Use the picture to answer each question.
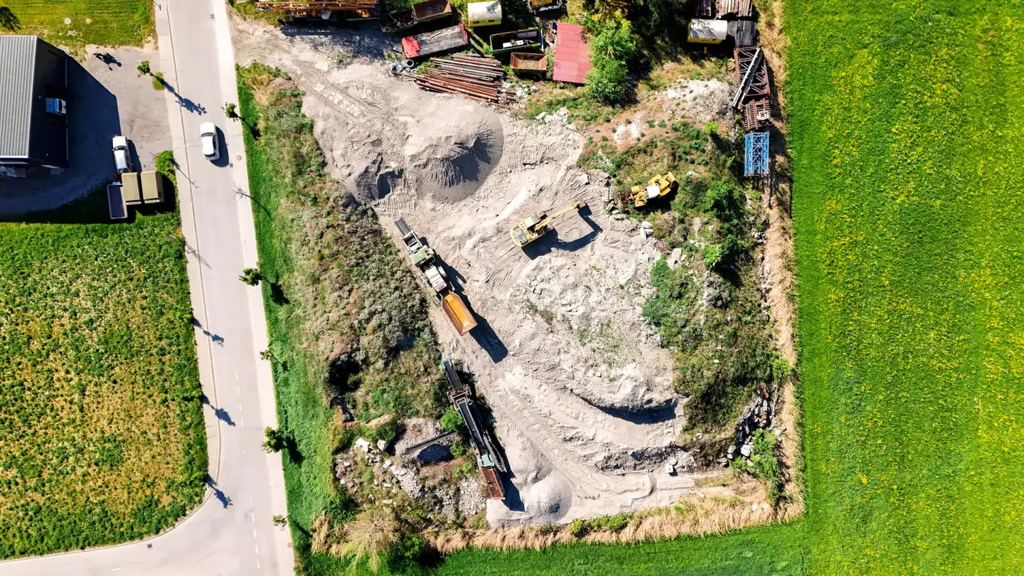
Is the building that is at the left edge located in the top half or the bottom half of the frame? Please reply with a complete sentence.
You can find the building that is at the left edge in the top half.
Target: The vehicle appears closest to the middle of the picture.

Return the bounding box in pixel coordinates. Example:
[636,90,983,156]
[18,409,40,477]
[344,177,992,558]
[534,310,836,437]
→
[506,198,582,250]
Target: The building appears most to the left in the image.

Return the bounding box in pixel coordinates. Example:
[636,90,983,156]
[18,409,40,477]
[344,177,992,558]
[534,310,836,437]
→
[0,31,71,167]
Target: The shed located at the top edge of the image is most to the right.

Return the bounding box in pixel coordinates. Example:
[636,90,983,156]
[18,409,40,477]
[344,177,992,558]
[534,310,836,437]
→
[687,22,726,46]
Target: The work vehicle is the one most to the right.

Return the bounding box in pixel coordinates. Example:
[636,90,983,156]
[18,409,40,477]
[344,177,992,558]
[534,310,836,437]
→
[619,171,681,214]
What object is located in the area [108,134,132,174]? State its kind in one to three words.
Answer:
car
